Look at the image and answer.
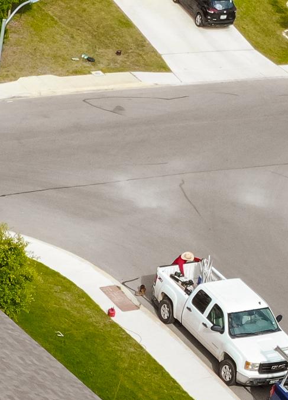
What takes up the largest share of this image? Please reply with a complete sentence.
The bulk of the photo consists of paved ground.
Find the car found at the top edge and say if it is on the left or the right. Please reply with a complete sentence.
The car found at the top edge appears in the right half of the scene.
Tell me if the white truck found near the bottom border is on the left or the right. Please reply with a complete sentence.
The white truck found near the bottom border appears in the right half of the scene.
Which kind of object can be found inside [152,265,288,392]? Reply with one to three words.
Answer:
truck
